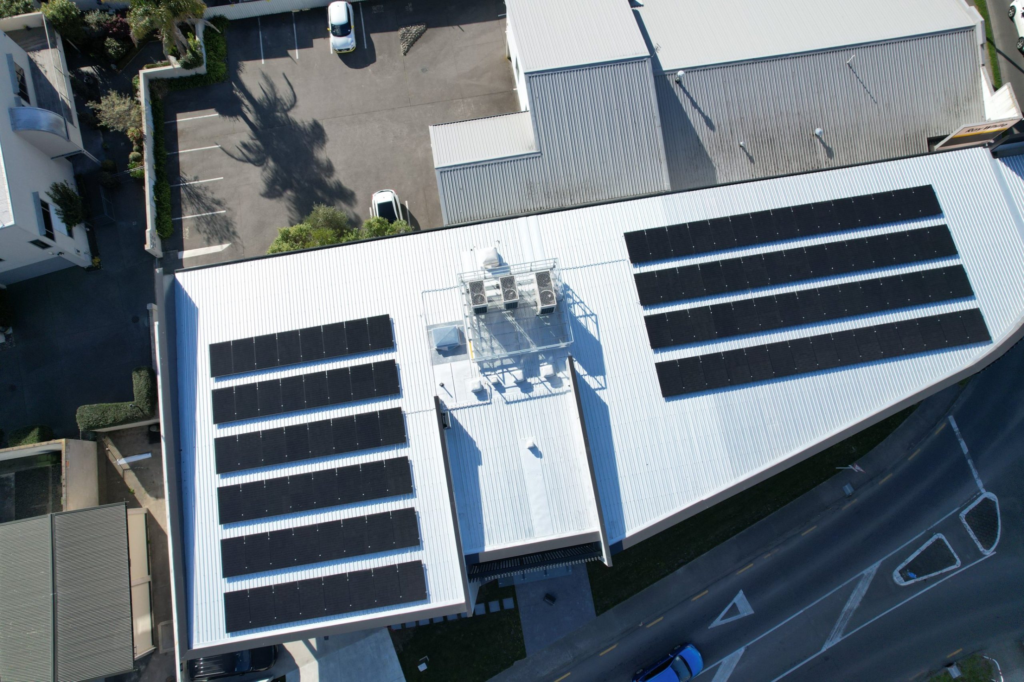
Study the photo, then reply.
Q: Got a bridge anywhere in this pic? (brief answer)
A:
No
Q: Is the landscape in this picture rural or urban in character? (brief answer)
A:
urban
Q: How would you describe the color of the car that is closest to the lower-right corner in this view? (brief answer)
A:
blue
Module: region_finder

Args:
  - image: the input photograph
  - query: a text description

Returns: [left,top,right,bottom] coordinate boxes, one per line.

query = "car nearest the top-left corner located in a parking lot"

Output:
[326,0,360,56]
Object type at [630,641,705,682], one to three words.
car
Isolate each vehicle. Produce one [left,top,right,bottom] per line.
[326,0,360,56]
[372,189,406,235]
[630,641,705,682]
[179,644,280,680]
[1007,0,1024,52]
